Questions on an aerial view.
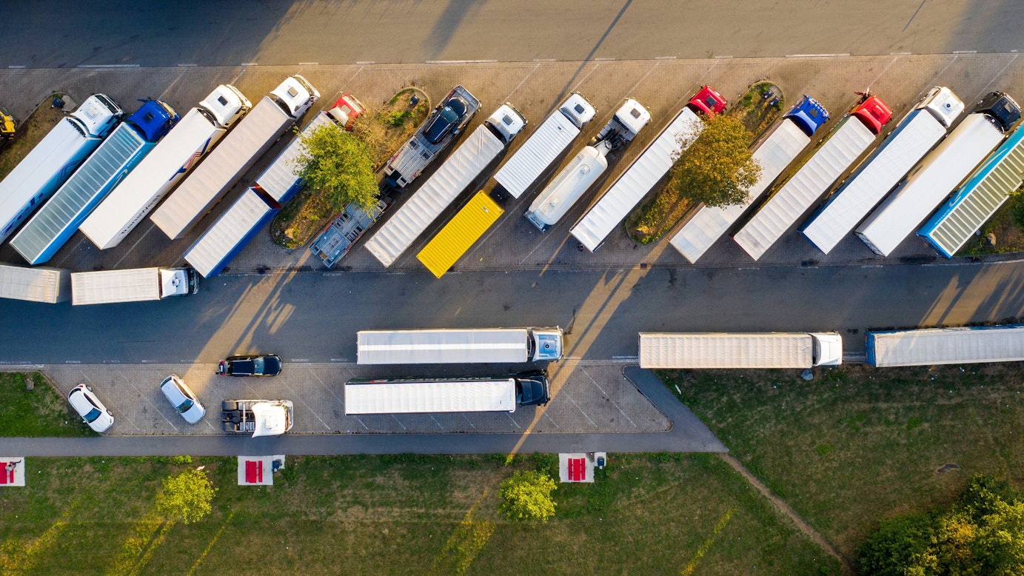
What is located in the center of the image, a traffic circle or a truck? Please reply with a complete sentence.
You can see a truck in the center of the image.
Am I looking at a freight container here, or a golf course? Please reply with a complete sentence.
Looking from above, you can make out a freight container.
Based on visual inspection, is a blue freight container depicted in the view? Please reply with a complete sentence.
No, no blue freight container is visible in the view.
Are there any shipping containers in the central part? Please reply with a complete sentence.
Yes, the scene does show a shipping container in the central part.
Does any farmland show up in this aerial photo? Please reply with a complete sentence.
No, there is no farmland in the image.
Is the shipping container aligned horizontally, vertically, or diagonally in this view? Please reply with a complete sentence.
The shipping container has been laid out diagonally relative to the frame.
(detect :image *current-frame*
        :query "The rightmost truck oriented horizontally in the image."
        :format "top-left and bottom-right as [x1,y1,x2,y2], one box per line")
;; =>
[862,323,1024,367]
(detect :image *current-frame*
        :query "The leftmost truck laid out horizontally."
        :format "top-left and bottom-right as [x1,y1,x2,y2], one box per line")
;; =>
[0,263,204,305]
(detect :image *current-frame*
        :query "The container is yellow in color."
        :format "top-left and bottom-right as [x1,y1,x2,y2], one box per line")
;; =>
[416,188,506,278]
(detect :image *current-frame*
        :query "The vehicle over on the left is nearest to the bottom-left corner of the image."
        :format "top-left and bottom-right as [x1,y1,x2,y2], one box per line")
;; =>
[69,382,114,434]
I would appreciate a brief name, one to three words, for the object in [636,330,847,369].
truck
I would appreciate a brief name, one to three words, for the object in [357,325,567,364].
truck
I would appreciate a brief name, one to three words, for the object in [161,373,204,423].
car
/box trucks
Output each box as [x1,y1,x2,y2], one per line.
[665,93,831,263]
[364,99,531,267]
[222,402,294,441]
[794,82,966,254]
[494,88,600,199]
[851,82,1024,255]
[636,330,847,369]
[357,325,567,364]
[0,263,204,305]
[914,118,1024,257]
[0,93,127,244]
[523,97,652,234]
[79,80,253,250]
[862,323,1024,367]
[727,86,896,260]
[568,81,730,253]
[9,90,184,264]
[183,89,371,279]
[150,70,321,240]
[345,371,551,415]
